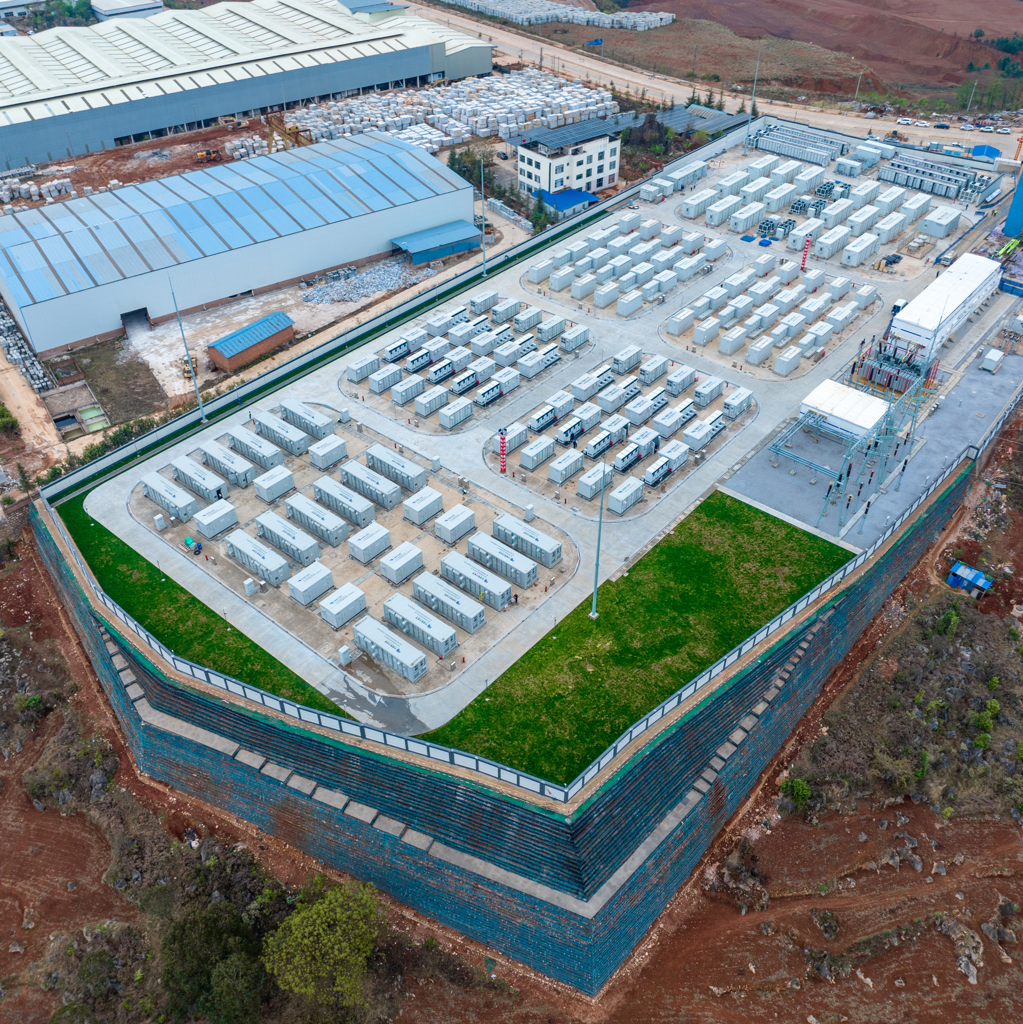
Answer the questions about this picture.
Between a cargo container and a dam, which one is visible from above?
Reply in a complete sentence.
Of the two, only a cargo container appears.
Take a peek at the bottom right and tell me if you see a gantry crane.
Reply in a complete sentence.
No, at the bottom right there is no gantry crane.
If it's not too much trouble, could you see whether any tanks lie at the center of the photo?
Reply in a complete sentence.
No, no tank can be made out at the center of the photo.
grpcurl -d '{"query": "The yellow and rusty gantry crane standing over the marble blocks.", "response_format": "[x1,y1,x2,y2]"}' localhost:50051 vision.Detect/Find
[265,109,320,148]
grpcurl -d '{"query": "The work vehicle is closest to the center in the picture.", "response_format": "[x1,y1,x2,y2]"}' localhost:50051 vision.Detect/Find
[478,219,500,235]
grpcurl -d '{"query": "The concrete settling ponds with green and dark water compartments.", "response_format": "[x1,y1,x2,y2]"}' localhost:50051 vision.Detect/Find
[40,379,112,443]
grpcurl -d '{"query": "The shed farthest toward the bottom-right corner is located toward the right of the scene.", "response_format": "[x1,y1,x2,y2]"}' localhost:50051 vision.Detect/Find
[946,554,997,598]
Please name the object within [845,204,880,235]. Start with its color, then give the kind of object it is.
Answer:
white shipping container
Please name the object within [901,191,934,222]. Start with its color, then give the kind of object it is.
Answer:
white shipping container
